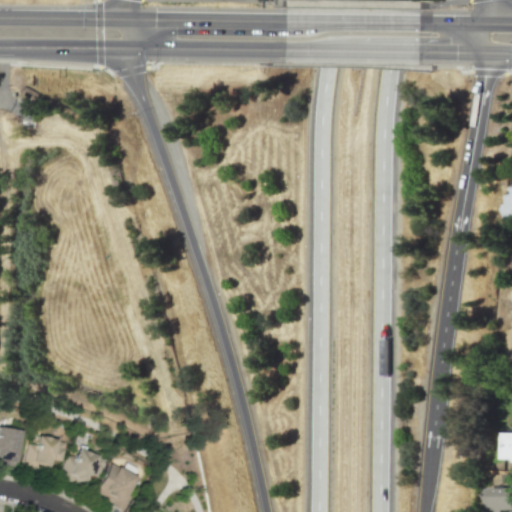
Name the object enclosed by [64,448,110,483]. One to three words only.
house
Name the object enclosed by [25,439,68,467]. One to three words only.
house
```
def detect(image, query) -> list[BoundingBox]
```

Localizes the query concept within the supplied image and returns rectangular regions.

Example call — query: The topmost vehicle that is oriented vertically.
[470,82,482,127]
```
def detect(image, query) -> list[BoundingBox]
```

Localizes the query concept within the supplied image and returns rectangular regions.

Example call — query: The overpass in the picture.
[286,0,433,71]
